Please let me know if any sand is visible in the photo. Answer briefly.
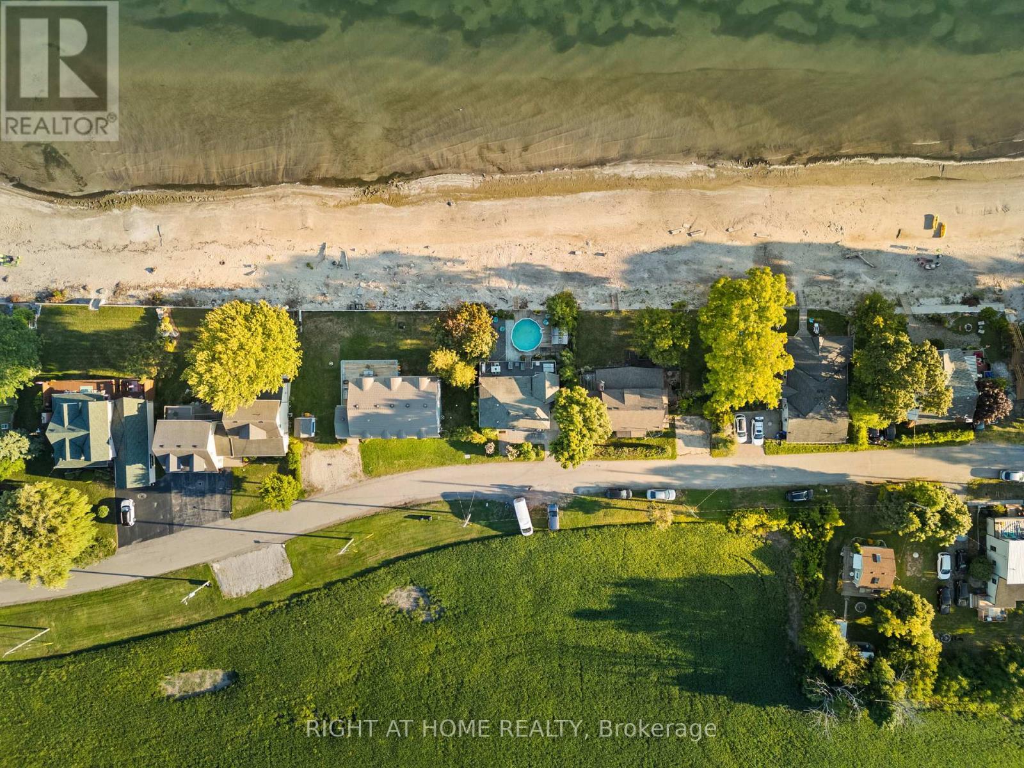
Yes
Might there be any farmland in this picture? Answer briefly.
Yes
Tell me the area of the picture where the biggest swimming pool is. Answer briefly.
center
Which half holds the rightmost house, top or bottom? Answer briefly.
bottom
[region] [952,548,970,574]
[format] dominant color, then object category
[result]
black car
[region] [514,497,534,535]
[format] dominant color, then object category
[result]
white vehicle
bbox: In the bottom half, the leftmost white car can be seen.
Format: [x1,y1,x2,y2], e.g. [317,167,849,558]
[120,499,136,527]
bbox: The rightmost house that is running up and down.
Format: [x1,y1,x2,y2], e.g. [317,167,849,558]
[982,514,1024,608]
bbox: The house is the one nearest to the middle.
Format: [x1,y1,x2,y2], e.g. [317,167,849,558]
[478,369,560,429]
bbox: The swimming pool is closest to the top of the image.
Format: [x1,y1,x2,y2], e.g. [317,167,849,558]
[511,318,545,352]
